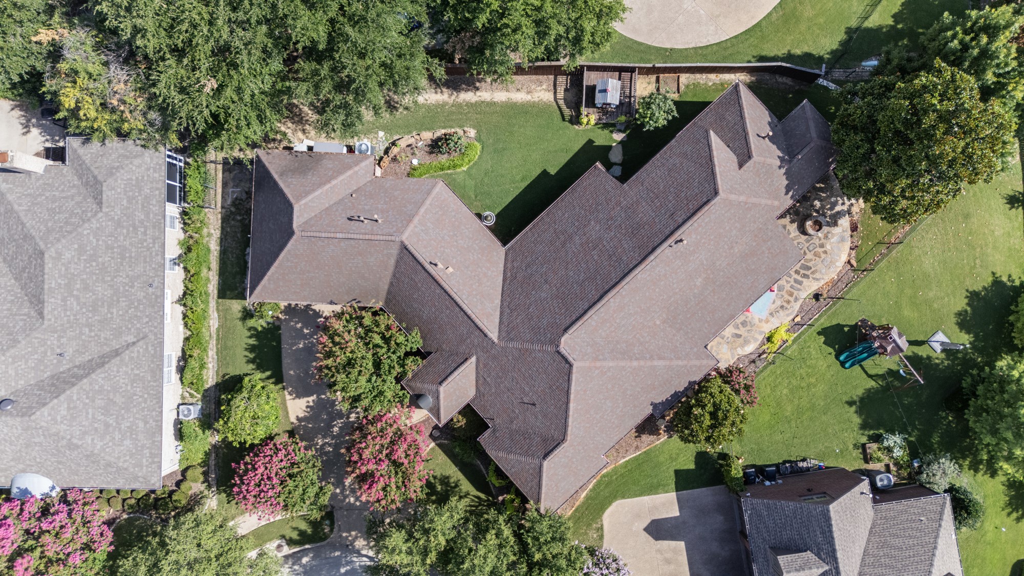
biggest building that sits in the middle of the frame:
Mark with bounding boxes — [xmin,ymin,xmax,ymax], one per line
[246,79,839,516]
